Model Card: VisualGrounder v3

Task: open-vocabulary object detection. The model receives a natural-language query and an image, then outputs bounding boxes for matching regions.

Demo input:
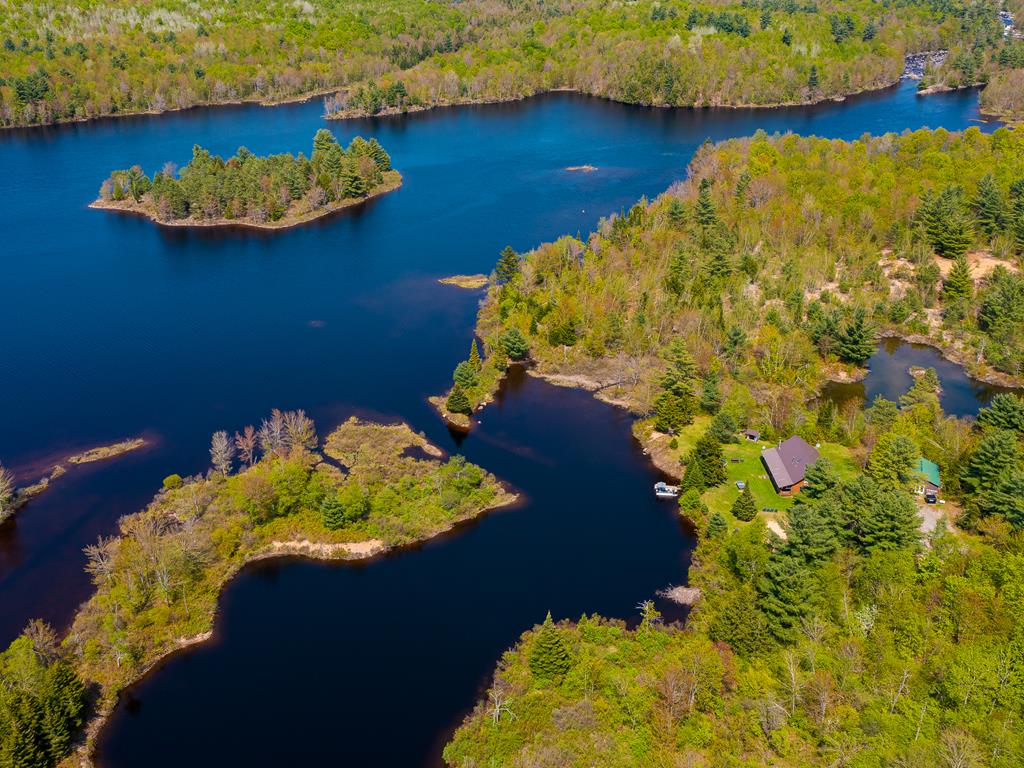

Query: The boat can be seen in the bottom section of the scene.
[653,483,676,498]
